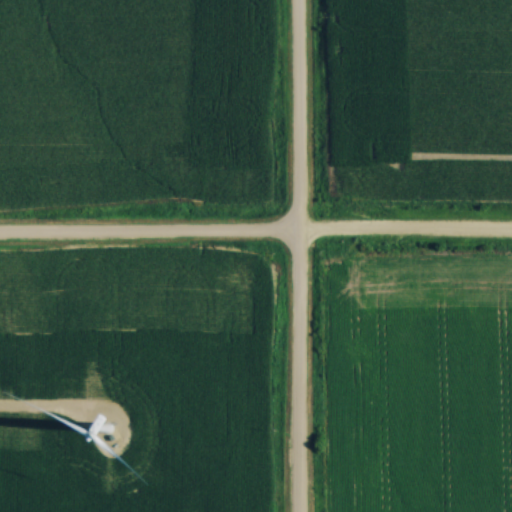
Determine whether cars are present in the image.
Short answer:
No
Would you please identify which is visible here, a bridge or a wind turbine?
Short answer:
wind turbine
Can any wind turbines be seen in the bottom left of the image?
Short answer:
Yes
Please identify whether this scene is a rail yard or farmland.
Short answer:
farmland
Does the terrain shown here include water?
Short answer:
No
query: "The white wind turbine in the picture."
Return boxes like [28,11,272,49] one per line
[5,390,148,486]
